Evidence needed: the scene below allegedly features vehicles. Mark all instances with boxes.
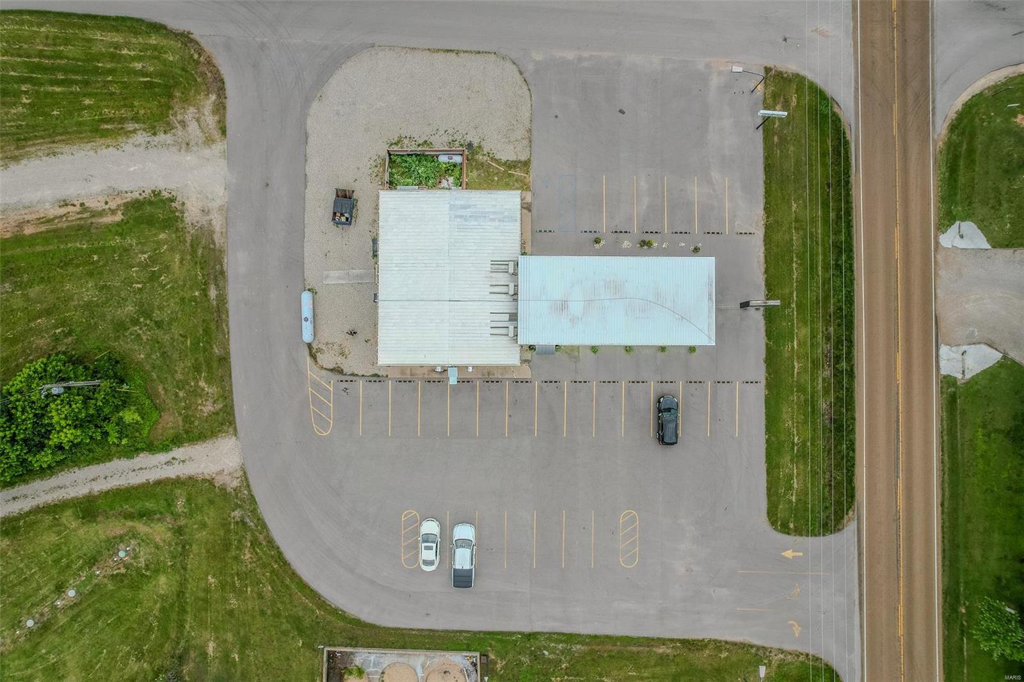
[450,525,476,591]
[418,520,440,572]
[658,395,681,446]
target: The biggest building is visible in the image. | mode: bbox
[376,187,522,366]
